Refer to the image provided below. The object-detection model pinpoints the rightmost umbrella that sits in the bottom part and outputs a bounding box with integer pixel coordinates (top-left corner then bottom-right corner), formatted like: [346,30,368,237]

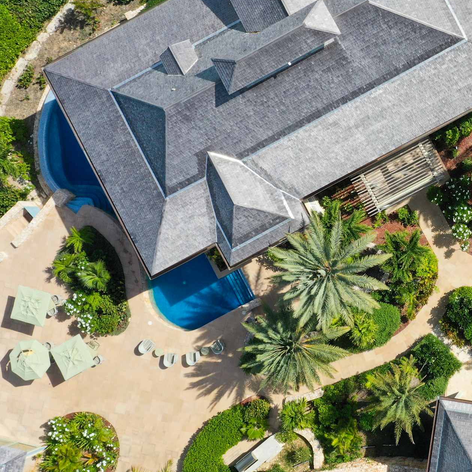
[47,334,97,382]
